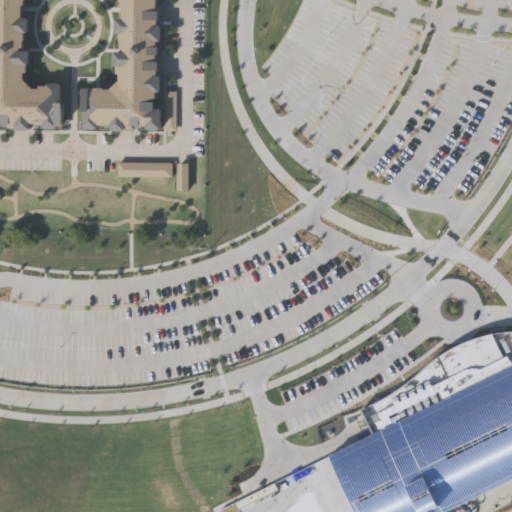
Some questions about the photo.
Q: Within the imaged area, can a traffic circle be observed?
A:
Yes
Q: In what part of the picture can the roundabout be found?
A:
right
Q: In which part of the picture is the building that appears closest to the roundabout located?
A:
bottom right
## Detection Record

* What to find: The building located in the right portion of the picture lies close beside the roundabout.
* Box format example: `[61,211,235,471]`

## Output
[330,333,512,512]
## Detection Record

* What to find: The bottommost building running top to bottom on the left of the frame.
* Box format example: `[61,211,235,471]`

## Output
[176,164,188,191]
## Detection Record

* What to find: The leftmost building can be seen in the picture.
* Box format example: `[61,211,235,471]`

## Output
[0,0,60,128]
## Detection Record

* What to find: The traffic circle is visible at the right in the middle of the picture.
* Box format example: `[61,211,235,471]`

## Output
[422,278,482,340]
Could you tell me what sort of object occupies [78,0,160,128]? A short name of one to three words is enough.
building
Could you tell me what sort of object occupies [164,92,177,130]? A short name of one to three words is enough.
building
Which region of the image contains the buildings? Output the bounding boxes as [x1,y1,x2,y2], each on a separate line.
[164,92,177,130]
[117,163,172,177]
[78,0,160,128]
[0,0,60,128]
[330,333,512,512]
[176,164,188,191]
